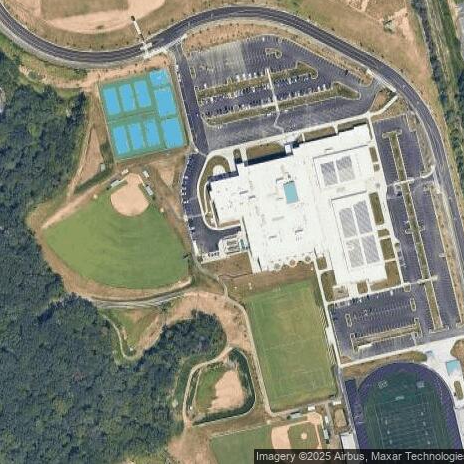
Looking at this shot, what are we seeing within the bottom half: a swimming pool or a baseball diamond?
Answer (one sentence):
The feature located within the bottom half is a baseball diamond.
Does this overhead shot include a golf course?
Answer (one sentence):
No, I can see no golf course in this picture.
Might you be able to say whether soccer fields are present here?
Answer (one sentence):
Yes, the image includes a soccer field.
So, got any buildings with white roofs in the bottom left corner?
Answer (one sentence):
No, I see no building with a white roof in the bottom left corner.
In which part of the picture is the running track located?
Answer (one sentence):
The running track is located in the bottom right region of the scene.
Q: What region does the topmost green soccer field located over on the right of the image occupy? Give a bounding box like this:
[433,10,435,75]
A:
[249,285,337,410]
